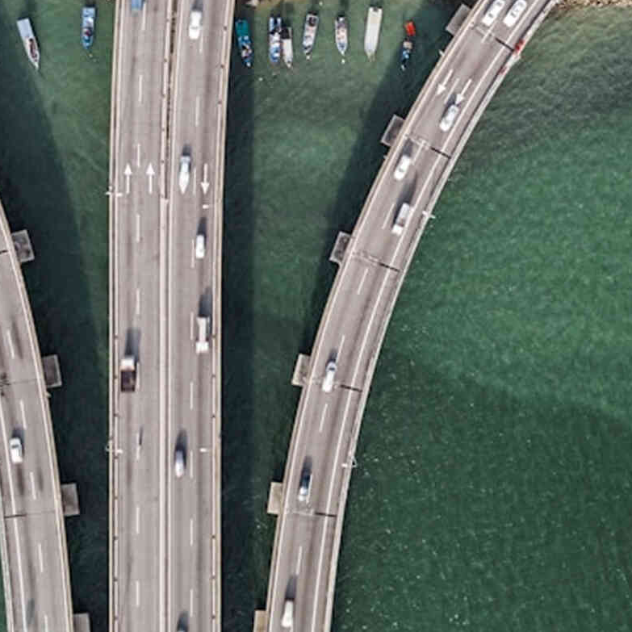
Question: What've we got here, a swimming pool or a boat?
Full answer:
This aerial view contains a boat.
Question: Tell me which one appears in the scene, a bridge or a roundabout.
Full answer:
I can see a bridge in this picture.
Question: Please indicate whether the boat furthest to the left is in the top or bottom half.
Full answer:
Seen from above, the boat furthest to the left lies in the top half of the view.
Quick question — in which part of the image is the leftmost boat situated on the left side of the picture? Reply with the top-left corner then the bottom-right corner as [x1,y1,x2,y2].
[17,16,42,81]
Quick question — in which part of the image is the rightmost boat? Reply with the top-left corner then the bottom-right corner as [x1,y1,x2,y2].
[399,17,415,79]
